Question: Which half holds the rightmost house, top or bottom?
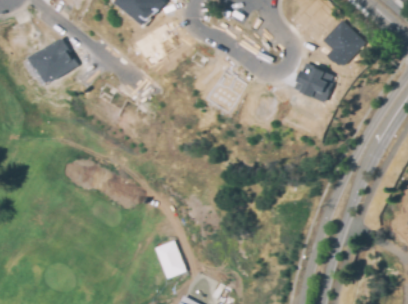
top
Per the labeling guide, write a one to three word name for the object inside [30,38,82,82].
house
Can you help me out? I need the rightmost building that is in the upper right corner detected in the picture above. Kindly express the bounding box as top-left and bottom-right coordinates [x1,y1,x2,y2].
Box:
[326,20,369,64]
